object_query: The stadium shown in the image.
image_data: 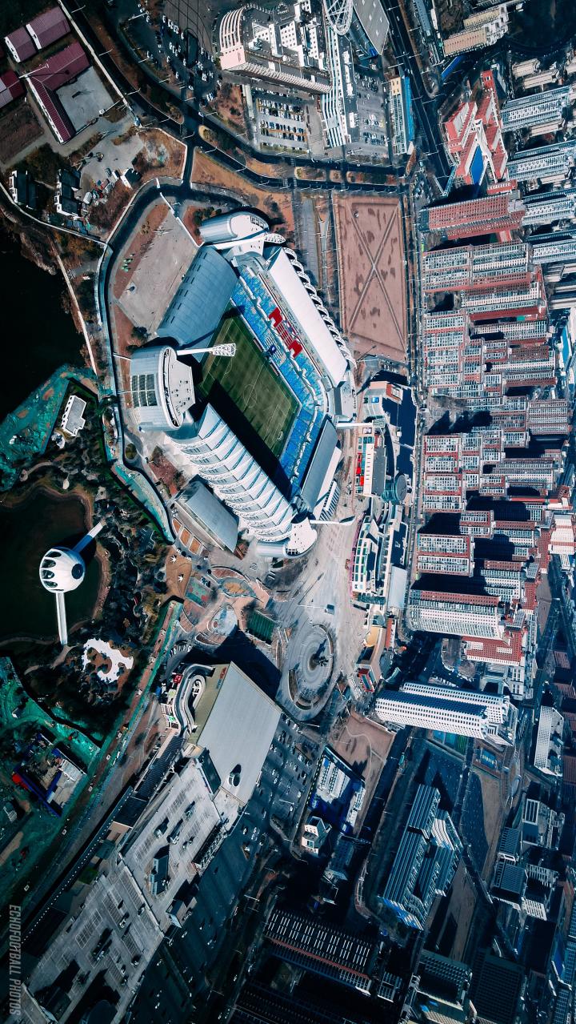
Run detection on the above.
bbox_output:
[126,210,356,559]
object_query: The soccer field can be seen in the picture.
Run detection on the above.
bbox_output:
[195,304,299,480]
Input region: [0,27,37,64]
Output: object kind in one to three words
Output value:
shed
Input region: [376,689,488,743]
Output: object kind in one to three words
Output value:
building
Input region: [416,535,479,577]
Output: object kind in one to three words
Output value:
building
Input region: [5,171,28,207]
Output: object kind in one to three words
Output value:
house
